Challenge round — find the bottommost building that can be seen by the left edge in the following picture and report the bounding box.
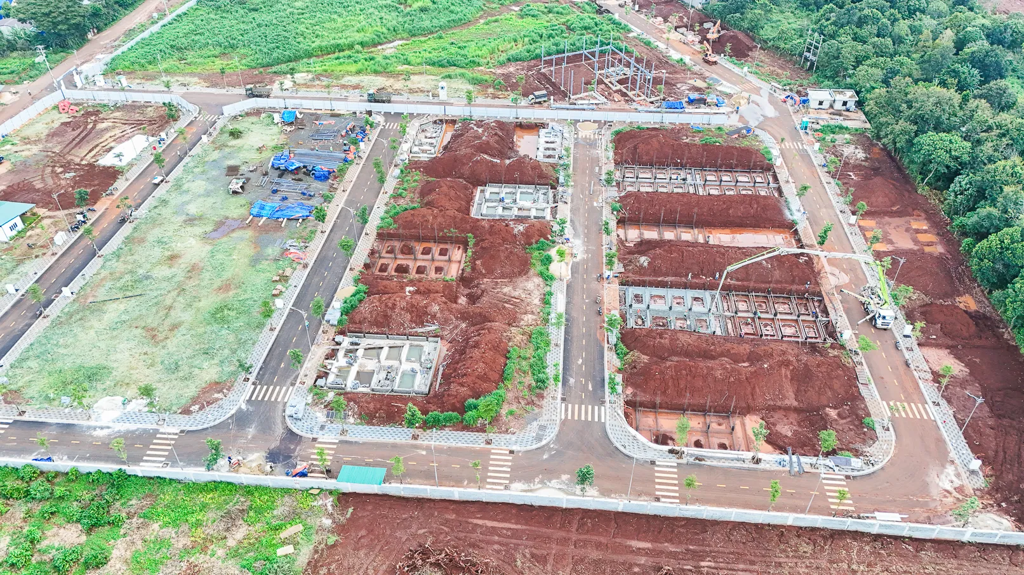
[0,197,42,241]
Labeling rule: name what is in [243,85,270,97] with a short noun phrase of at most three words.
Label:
vehicle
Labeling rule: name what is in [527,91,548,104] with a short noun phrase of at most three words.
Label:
vehicle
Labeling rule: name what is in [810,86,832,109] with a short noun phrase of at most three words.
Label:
shed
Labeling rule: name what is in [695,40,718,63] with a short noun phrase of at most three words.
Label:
work vehicle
